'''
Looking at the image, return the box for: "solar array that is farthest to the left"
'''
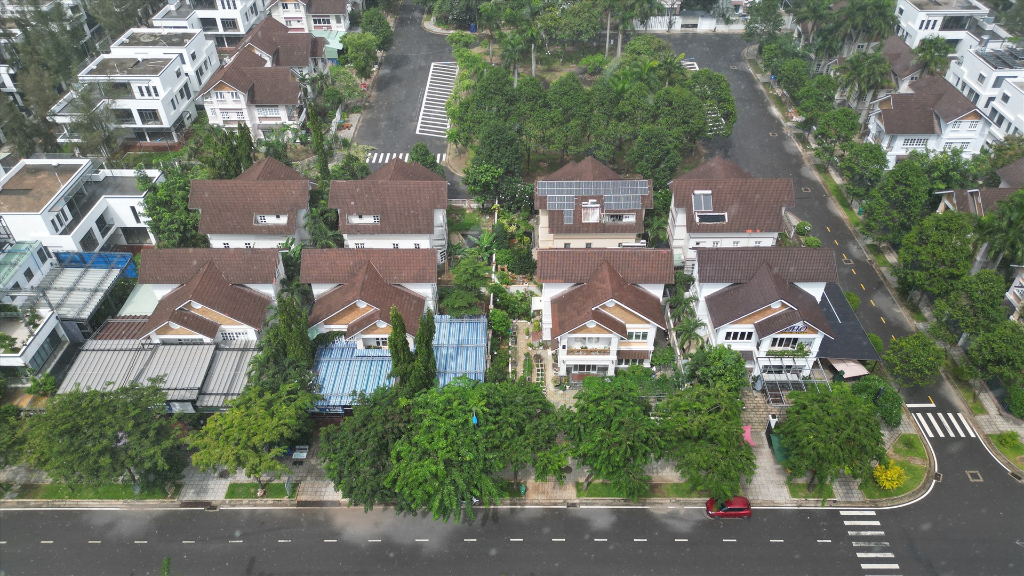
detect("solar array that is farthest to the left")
[536,180,651,223]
